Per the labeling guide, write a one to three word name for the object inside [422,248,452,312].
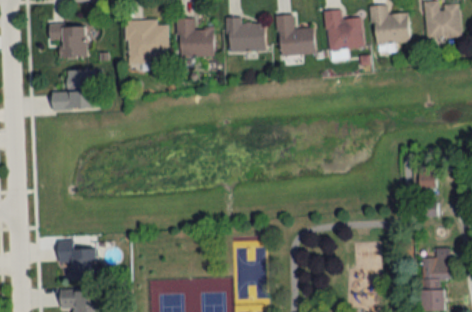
house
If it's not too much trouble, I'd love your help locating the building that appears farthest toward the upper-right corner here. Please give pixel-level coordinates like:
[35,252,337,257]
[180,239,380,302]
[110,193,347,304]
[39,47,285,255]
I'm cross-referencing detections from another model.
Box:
[424,0,463,38]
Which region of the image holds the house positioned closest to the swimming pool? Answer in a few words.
bottom left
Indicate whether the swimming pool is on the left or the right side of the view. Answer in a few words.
left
